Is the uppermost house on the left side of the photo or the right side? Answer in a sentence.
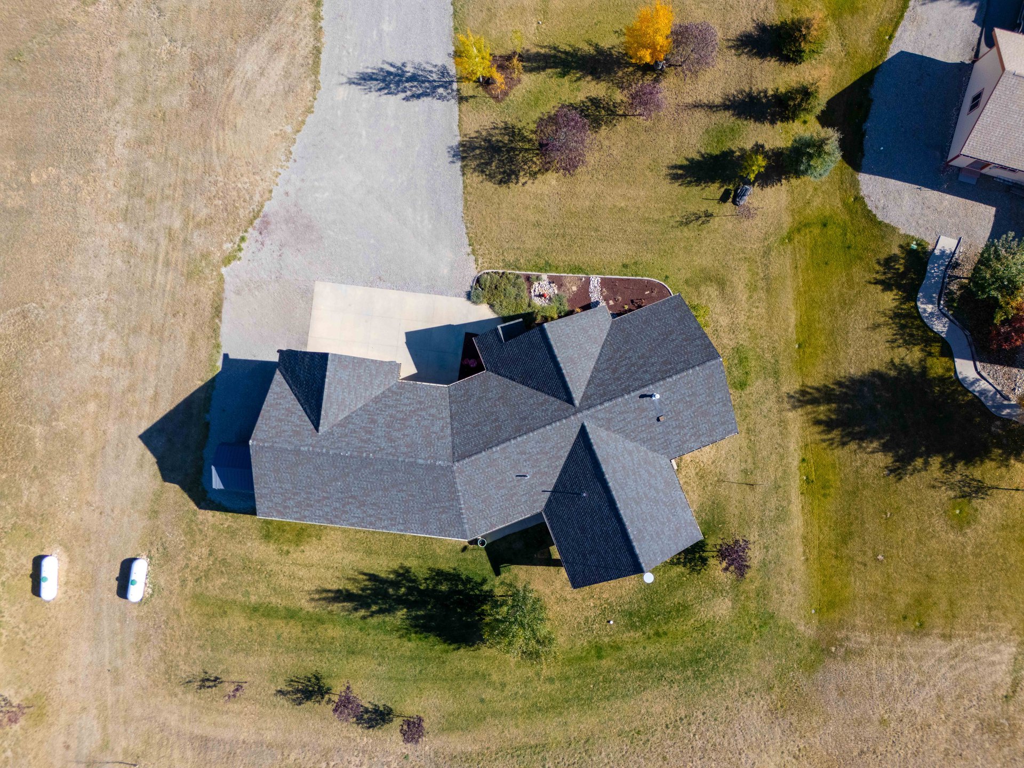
You can find the uppermost house on the right side of the picture.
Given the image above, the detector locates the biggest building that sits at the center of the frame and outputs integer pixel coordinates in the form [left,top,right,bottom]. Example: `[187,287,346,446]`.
[250,291,737,590]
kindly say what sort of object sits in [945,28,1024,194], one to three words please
house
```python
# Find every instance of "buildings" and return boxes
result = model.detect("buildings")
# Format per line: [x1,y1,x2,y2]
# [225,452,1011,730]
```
[945,28,1024,194]
[250,291,737,590]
